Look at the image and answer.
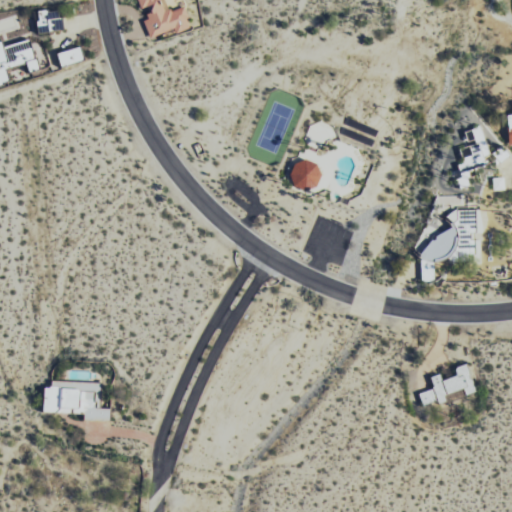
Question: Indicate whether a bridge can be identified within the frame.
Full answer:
No, the frame has no bridge in it.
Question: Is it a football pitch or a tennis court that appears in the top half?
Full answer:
There is a tennis court in the top half.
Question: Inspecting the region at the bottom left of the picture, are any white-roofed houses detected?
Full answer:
Yes, the scene does show a white-roofed house at the bottom left of the picture.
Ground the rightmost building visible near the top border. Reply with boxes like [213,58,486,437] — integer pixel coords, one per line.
[139,0,192,38]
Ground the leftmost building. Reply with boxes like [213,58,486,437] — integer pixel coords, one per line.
[0,39,40,86]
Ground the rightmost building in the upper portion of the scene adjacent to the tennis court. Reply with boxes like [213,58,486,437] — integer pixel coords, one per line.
[291,160,322,190]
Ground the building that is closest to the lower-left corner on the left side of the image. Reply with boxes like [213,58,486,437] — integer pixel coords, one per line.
[42,382,110,422]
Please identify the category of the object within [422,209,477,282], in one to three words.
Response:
house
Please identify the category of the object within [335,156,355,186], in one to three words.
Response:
swimming pool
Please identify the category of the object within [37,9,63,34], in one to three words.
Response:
house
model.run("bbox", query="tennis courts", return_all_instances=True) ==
[248,90,304,166]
